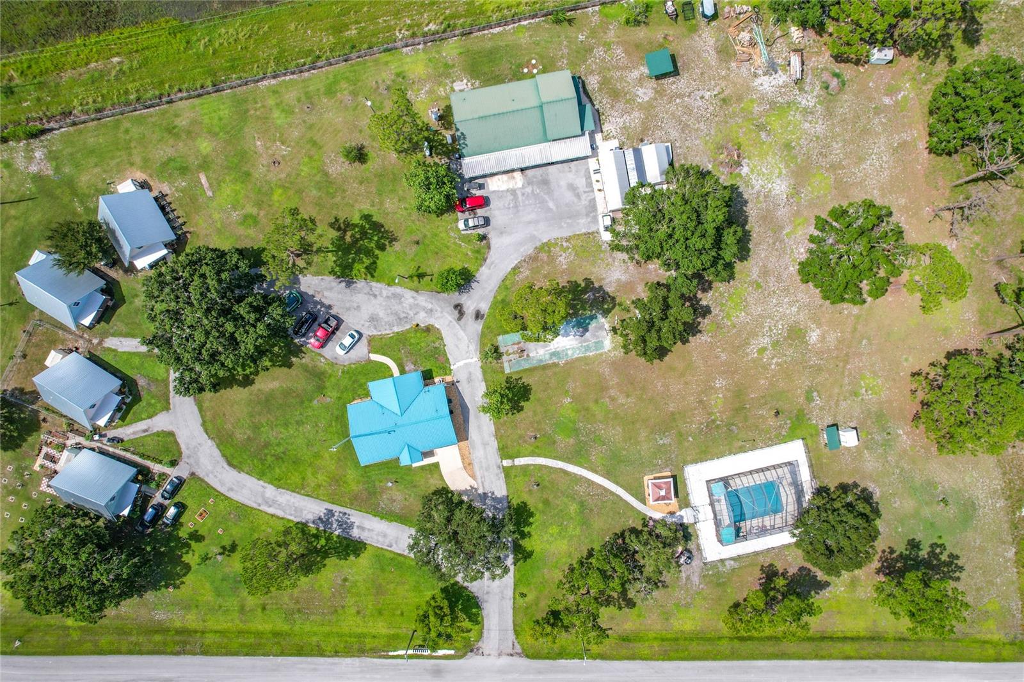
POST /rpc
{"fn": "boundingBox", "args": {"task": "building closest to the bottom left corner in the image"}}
[48,440,153,525]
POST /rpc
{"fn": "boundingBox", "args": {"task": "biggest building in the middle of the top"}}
[450,69,595,181]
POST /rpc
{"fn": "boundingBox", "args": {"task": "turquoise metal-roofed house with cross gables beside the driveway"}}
[347,371,457,466]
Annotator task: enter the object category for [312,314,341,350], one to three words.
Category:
truck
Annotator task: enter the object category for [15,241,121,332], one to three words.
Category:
building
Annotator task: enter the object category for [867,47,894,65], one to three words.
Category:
shed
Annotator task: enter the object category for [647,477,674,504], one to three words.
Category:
gazebo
